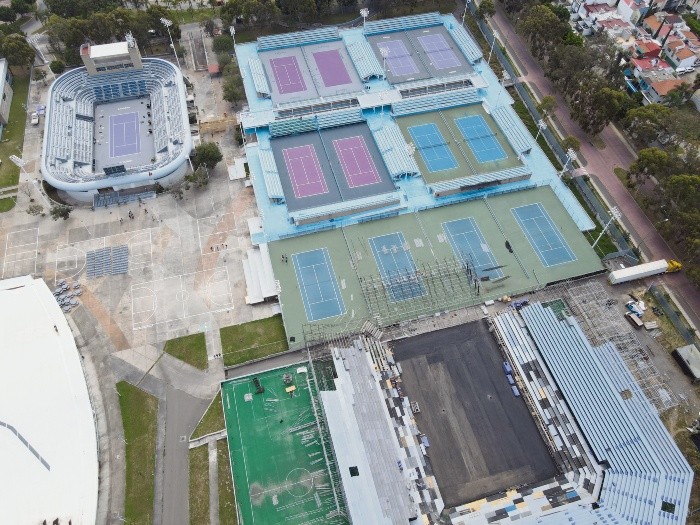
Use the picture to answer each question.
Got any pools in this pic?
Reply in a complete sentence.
No, I can see no pool in this picture.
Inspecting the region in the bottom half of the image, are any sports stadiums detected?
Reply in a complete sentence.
Yes, a sports stadium can be seen in the bottom half of the image.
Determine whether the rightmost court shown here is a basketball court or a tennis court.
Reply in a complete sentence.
The rightmost court can be classified as a tennis court.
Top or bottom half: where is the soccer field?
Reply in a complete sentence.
The bottom half of the photo is where the soccer field is.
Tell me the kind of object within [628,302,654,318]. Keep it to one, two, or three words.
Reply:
vehicle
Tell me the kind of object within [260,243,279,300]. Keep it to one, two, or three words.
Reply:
shed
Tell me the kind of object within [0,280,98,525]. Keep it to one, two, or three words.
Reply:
stadium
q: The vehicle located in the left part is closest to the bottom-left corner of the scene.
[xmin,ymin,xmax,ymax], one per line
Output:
[254,376,266,400]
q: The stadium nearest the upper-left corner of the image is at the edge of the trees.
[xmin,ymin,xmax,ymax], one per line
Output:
[40,55,193,208]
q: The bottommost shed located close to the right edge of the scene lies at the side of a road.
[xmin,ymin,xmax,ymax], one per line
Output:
[671,337,700,389]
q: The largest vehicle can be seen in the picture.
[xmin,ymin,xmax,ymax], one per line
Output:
[600,258,680,280]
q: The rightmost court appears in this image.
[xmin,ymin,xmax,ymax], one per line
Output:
[486,185,604,286]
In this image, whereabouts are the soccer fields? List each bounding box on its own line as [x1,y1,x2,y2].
[221,360,349,525]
